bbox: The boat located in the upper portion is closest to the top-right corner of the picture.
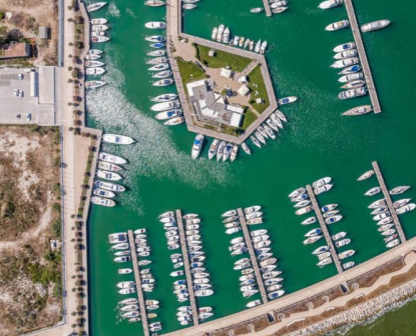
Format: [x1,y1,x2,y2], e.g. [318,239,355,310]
[355,20,391,34]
